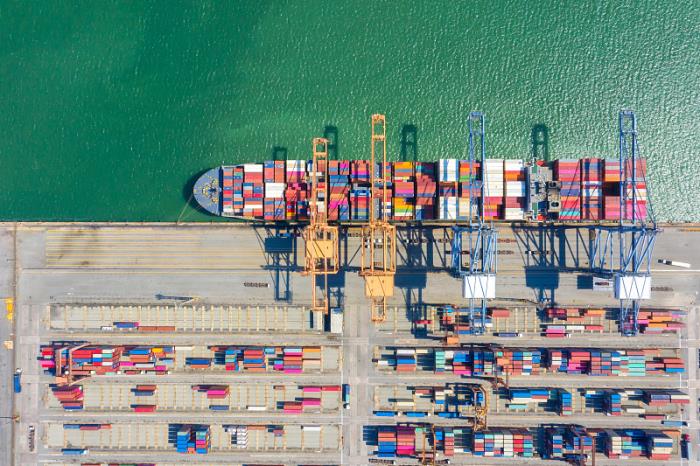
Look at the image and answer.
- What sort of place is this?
port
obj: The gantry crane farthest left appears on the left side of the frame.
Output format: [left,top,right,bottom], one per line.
[57,342,91,388]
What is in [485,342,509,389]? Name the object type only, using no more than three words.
container crane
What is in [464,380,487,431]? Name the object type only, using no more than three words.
container crane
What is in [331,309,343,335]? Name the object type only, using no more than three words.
building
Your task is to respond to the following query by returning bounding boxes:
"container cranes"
[438,300,459,346]
[464,380,487,431]
[438,111,501,334]
[57,342,91,388]
[566,420,596,466]
[355,115,397,321]
[304,138,344,314]
[564,109,656,335]
[485,342,509,389]
[416,420,436,466]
